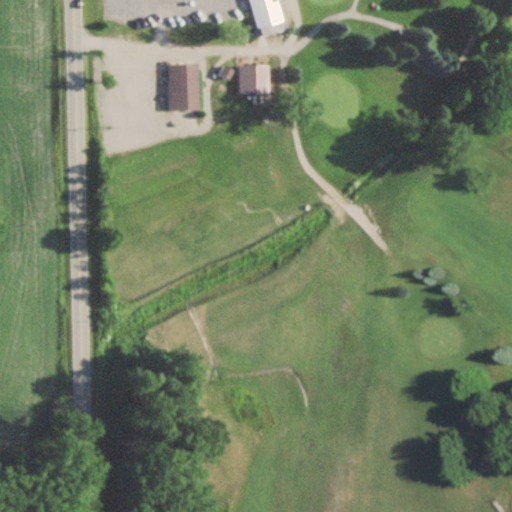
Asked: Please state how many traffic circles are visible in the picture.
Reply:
0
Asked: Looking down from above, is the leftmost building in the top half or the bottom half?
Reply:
top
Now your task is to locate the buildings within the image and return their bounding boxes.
[249,0,288,38]
[169,64,200,111]
[218,66,236,82]
[238,64,271,94]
